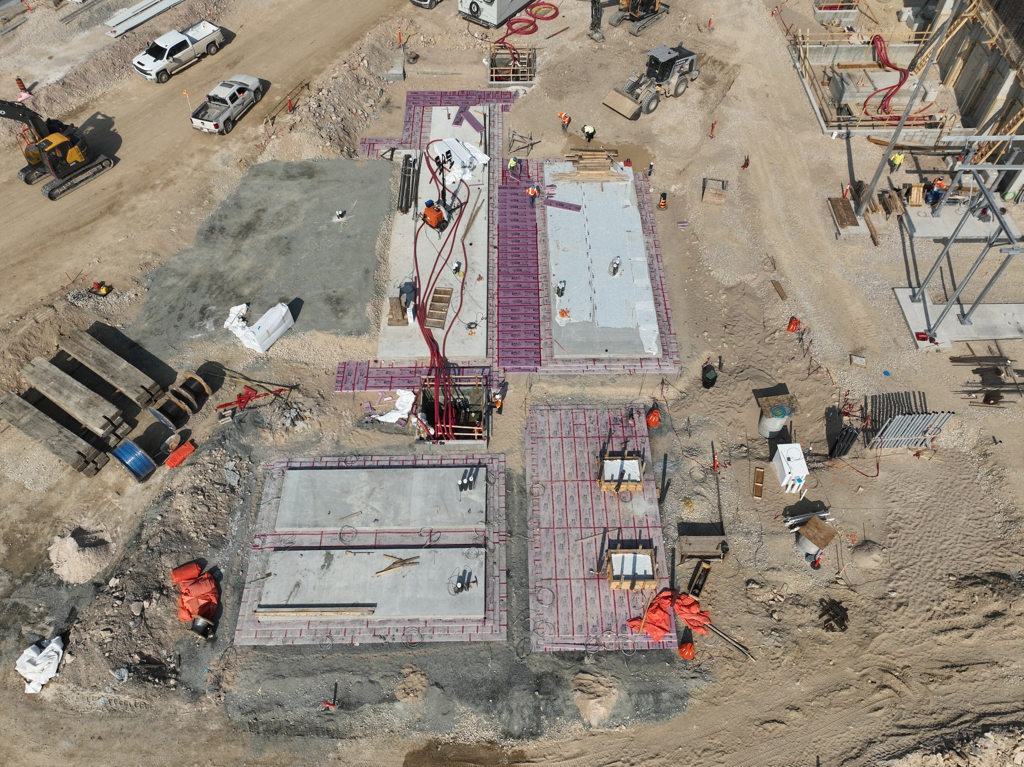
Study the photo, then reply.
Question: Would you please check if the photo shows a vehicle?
Yes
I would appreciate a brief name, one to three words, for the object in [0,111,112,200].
work vehicle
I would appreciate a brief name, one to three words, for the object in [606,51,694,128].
work vehicle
